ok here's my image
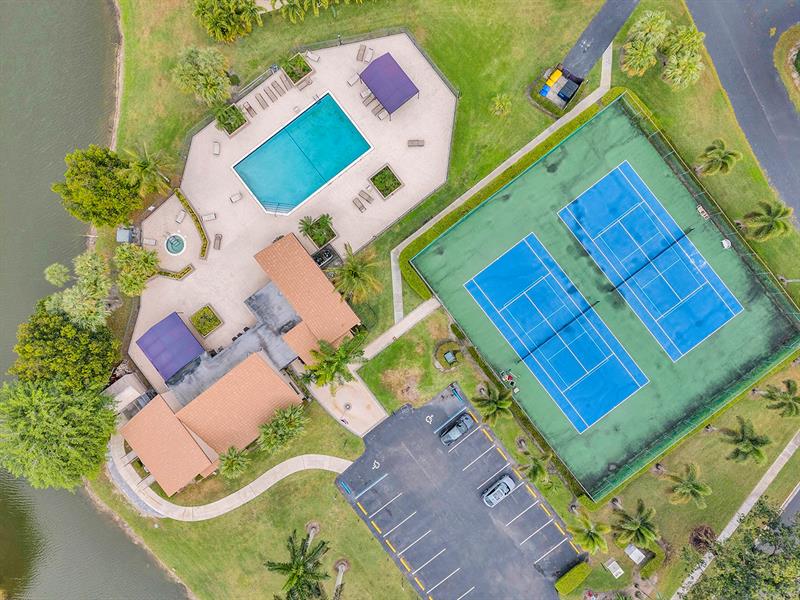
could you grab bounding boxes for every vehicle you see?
[481,477,517,510]
[439,416,475,448]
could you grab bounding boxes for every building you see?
[109,227,141,241]
[121,233,360,497]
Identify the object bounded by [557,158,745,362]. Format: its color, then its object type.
blue tennis court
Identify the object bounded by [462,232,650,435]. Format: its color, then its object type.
blue tennis court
